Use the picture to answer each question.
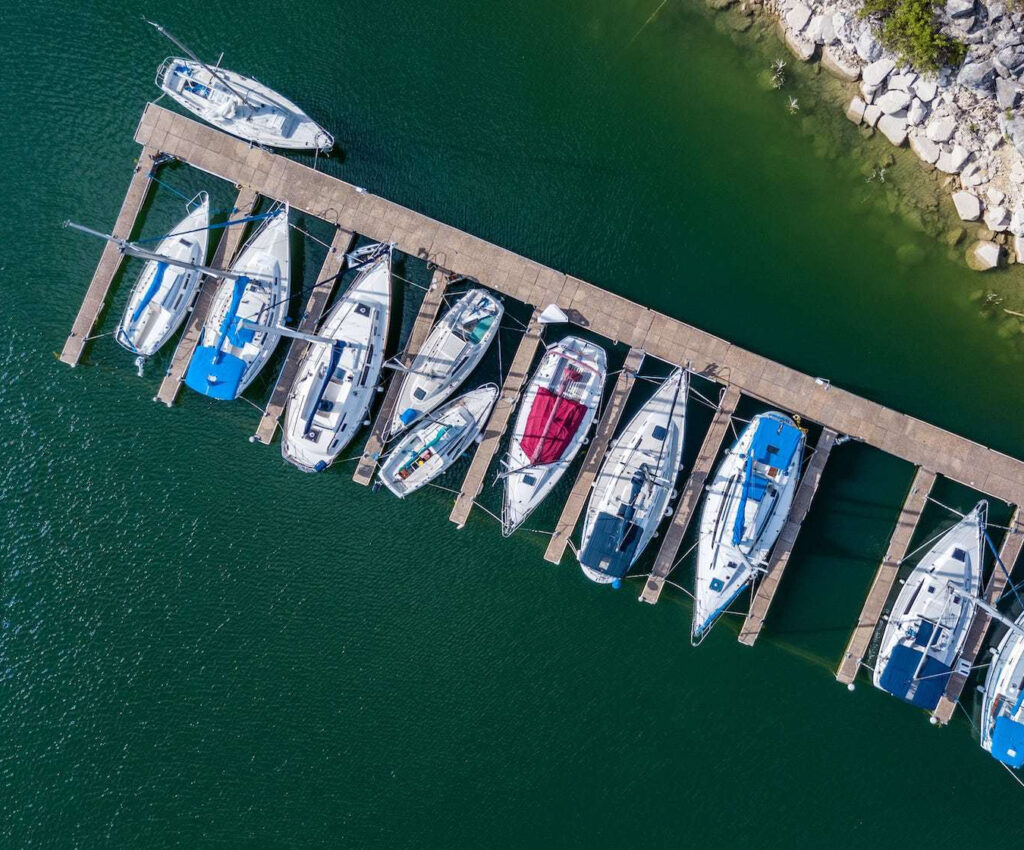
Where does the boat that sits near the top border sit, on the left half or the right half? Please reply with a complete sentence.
It is on the left.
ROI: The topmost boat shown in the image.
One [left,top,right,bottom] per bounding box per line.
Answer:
[131,8,330,149]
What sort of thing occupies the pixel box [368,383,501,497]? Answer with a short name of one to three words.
boat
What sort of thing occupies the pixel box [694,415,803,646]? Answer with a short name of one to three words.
boat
